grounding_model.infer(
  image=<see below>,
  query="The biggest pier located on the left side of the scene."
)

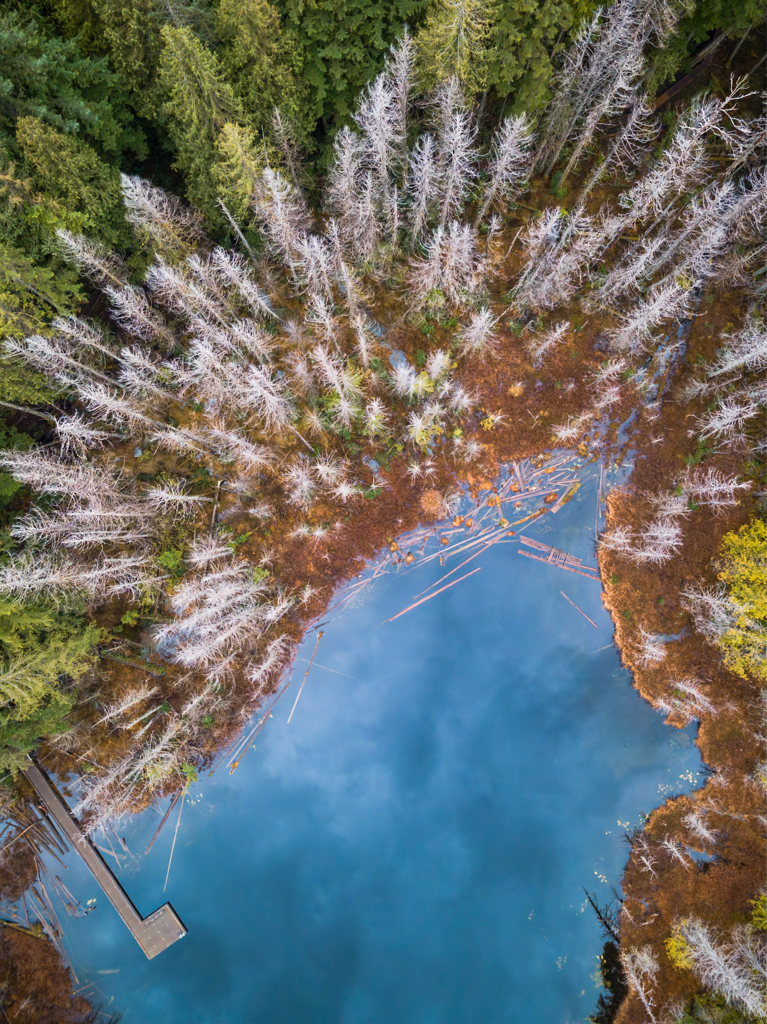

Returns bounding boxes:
[21,755,188,961]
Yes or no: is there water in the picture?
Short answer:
Yes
